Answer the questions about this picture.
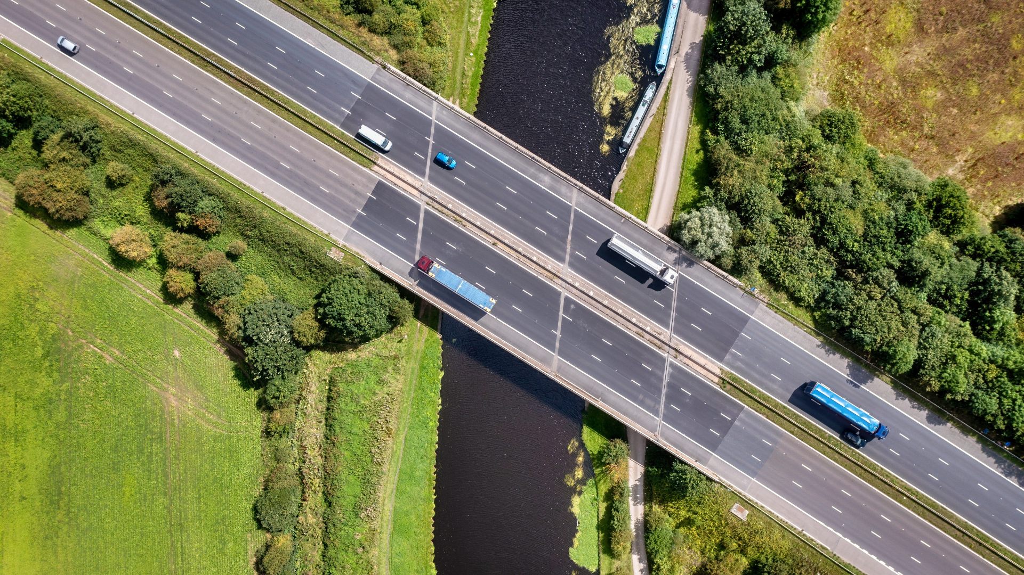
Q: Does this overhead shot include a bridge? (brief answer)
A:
Yes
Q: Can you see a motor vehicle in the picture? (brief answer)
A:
Yes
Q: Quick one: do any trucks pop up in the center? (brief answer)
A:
Yes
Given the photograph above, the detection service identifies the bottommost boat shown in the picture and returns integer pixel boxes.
[618,81,656,154]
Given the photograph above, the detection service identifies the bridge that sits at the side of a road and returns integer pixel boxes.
[361,60,751,478]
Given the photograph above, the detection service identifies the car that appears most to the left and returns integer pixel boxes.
[58,36,80,53]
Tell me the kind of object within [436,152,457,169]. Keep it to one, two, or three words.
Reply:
car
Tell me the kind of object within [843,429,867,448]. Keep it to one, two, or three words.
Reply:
car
